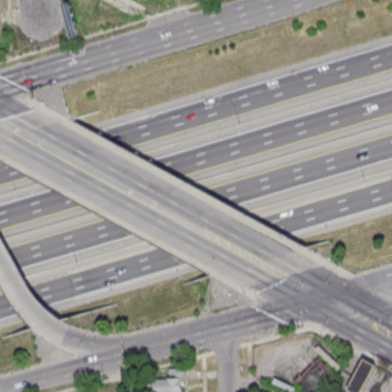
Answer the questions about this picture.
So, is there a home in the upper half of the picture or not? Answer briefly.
No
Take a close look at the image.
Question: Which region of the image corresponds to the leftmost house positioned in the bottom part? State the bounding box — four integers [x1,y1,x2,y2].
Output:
[153,368,183,392]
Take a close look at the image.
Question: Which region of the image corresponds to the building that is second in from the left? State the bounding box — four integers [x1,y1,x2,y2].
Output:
[295,356,330,392]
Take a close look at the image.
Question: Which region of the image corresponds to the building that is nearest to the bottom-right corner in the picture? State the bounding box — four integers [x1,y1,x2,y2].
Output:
[345,356,374,392]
